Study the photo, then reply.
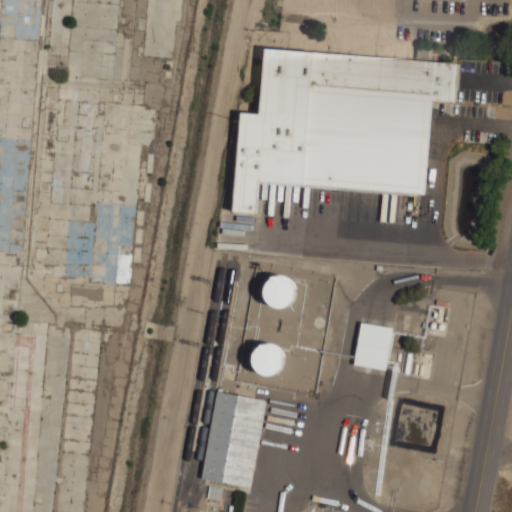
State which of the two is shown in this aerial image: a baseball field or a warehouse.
warehouse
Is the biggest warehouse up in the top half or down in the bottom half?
top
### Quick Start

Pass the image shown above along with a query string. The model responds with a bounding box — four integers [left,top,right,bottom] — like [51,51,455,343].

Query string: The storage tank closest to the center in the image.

[262,275,298,310]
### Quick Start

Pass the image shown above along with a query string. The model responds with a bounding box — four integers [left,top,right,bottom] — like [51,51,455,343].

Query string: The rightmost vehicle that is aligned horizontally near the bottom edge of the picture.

[312,496,350,510]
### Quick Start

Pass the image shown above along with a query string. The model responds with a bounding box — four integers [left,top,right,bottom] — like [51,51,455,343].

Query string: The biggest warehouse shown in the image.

[232,48,460,214]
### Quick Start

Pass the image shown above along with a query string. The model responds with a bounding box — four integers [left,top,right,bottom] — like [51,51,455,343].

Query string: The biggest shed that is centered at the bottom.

[202,390,266,490]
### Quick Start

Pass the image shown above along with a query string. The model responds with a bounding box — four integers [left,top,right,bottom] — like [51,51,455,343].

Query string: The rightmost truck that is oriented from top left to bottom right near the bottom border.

[348,488,384,512]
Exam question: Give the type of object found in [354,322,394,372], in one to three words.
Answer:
building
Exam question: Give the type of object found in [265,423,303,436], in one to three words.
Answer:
vehicle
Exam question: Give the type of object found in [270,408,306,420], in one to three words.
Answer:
vehicle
